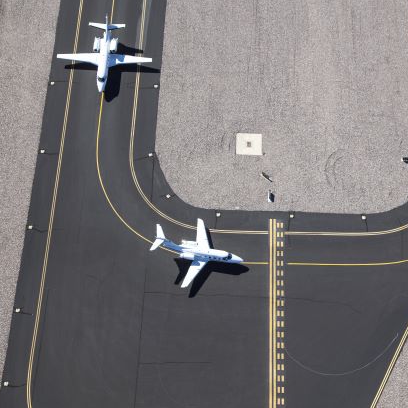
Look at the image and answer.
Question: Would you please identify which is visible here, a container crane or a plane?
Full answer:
It is a plane that can be seen here.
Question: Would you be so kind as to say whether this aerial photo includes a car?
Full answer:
No, there is no car in the image.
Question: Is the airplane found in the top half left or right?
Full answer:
It is on the left.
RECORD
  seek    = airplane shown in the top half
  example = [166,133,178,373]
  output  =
[57,19,153,92]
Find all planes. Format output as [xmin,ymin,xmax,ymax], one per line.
[150,219,245,287]
[57,19,153,92]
